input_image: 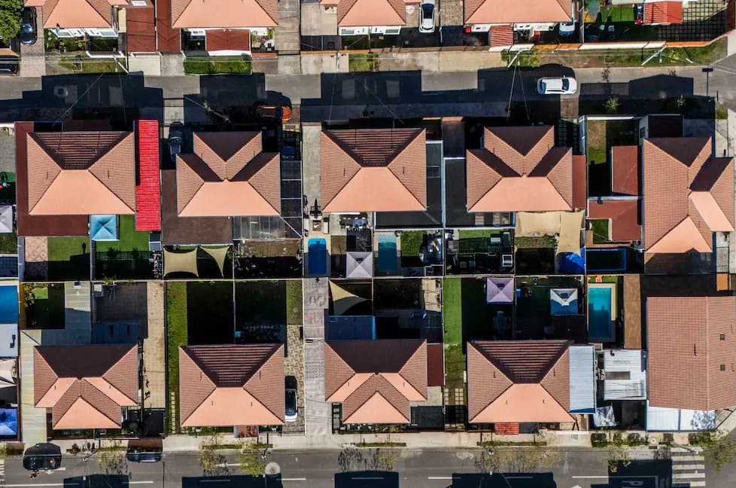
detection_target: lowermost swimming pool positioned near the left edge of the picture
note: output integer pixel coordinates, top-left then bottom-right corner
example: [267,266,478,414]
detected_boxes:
[0,283,18,323]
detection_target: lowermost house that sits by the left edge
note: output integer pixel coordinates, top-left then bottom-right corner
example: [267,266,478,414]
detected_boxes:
[32,343,143,430]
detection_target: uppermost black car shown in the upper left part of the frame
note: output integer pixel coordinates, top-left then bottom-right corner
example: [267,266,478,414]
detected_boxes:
[19,8,38,46]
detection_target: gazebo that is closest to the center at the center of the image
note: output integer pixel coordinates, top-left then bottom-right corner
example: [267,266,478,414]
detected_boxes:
[346,252,373,279]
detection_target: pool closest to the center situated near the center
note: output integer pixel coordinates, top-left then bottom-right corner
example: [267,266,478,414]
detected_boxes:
[376,232,399,275]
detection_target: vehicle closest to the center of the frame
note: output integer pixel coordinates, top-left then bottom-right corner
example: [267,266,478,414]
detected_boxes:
[279,125,297,159]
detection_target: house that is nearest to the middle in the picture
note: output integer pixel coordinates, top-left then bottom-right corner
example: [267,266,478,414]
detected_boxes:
[320,127,427,214]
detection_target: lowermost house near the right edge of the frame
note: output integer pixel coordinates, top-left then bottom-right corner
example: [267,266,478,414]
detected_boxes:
[636,295,736,413]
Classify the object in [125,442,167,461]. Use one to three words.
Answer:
car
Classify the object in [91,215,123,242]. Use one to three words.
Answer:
gazebo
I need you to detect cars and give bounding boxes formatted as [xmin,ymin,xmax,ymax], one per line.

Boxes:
[285,379,301,419]
[166,123,185,161]
[19,8,38,46]
[279,125,297,159]
[24,447,65,467]
[536,74,576,95]
[125,442,167,461]
[417,0,436,33]
[556,1,576,40]
[255,103,296,123]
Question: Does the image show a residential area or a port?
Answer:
residential area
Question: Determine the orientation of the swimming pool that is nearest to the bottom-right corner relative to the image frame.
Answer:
up and down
